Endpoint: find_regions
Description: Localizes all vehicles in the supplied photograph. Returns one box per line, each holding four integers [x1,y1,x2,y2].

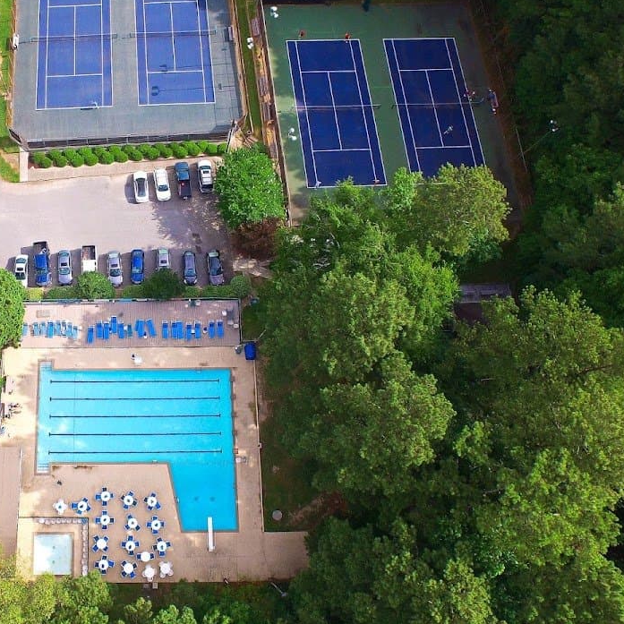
[182,251,198,285]
[13,253,29,288]
[33,240,50,286]
[107,250,124,287]
[132,170,149,205]
[175,160,193,199]
[57,249,73,285]
[129,249,146,284]
[155,248,170,282]
[80,244,96,273]
[197,159,214,194]
[153,167,170,201]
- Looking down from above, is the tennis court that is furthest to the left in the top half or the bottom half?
top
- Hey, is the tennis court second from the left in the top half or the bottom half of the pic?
top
